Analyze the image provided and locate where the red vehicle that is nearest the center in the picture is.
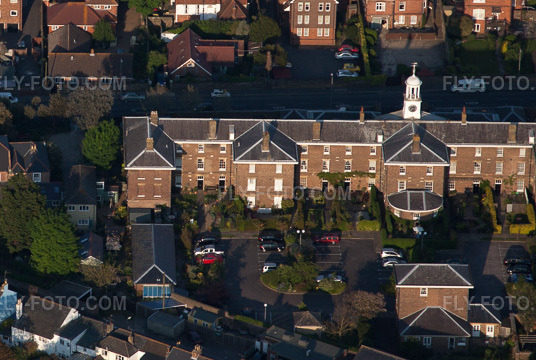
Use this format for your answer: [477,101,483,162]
[313,234,341,246]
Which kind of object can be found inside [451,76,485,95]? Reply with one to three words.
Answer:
camper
